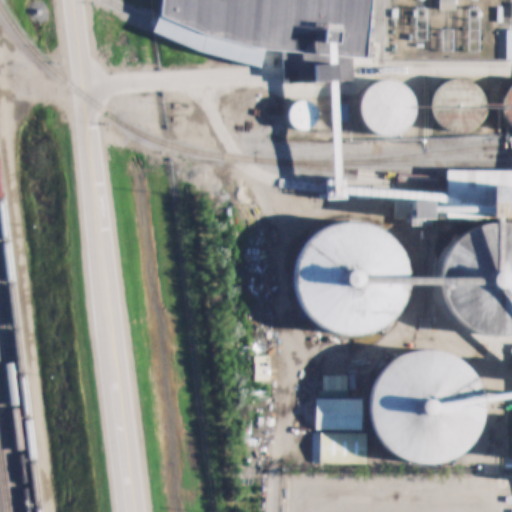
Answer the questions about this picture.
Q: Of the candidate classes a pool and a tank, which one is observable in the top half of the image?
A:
tank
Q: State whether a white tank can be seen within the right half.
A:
Yes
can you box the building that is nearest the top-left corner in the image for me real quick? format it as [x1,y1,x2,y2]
[28,1,50,28]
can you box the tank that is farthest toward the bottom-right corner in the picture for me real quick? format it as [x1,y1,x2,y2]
[366,348,488,466]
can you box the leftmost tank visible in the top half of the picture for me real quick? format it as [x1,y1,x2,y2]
[284,98,320,132]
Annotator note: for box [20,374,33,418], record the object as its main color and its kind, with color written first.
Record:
white rail car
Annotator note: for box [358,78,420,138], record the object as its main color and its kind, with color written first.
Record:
white storage tank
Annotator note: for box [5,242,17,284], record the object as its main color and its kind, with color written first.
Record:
white rail car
